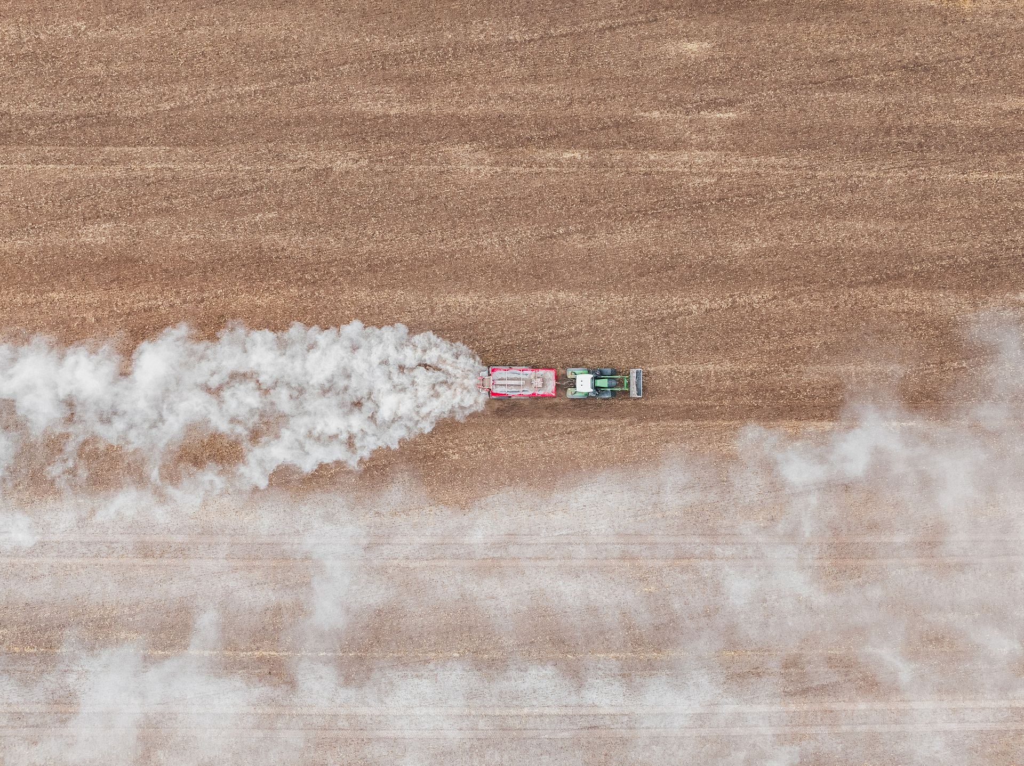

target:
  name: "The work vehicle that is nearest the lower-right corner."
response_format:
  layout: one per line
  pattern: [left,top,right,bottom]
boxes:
[566,368,641,398]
